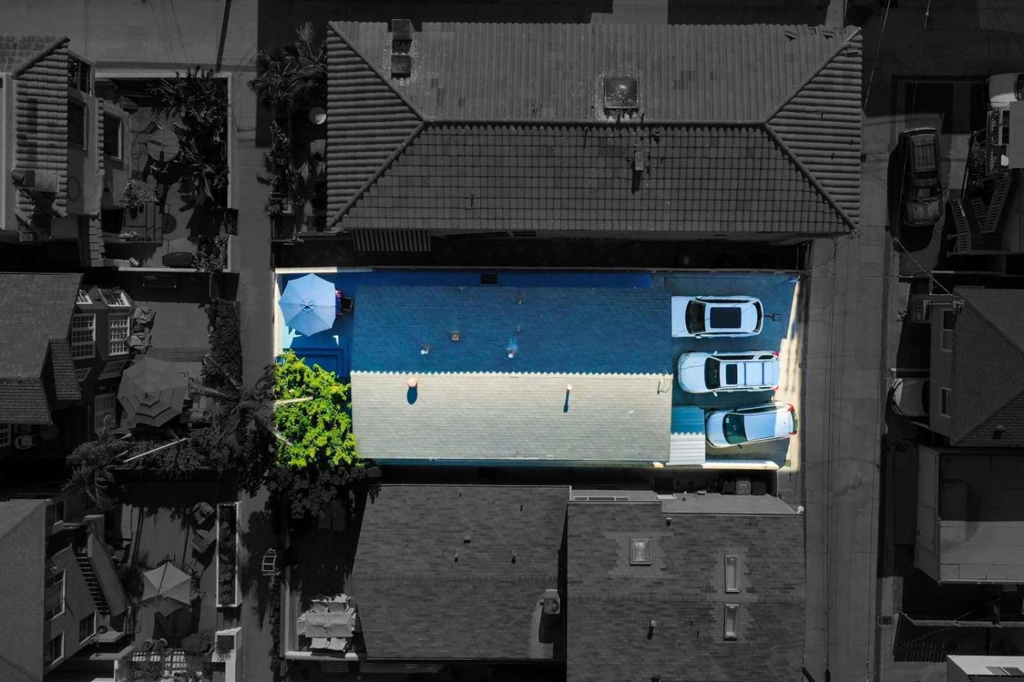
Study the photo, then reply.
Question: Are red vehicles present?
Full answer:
No, no red vehicle can be seen from above.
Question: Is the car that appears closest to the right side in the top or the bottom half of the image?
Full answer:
Seen from above, the car that appears closest to the right side lies in the top half of the view.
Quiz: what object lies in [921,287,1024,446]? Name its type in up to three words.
house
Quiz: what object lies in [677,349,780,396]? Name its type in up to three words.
car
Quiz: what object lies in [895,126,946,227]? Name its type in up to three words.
car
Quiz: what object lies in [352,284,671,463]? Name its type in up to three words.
house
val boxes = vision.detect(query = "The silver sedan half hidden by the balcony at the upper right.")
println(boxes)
[979,69,1024,111]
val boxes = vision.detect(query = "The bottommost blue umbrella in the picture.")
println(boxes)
[277,274,337,334]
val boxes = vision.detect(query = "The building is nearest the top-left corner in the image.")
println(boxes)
[0,36,126,275]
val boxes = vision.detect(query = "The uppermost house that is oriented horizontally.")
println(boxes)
[325,12,864,238]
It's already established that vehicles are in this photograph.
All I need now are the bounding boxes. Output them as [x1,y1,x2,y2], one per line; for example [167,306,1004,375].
[670,292,765,340]
[887,376,933,420]
[979,69,1024,111]
[705,400,800,449]
[677,349,780,396]
[895,126,946,227]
